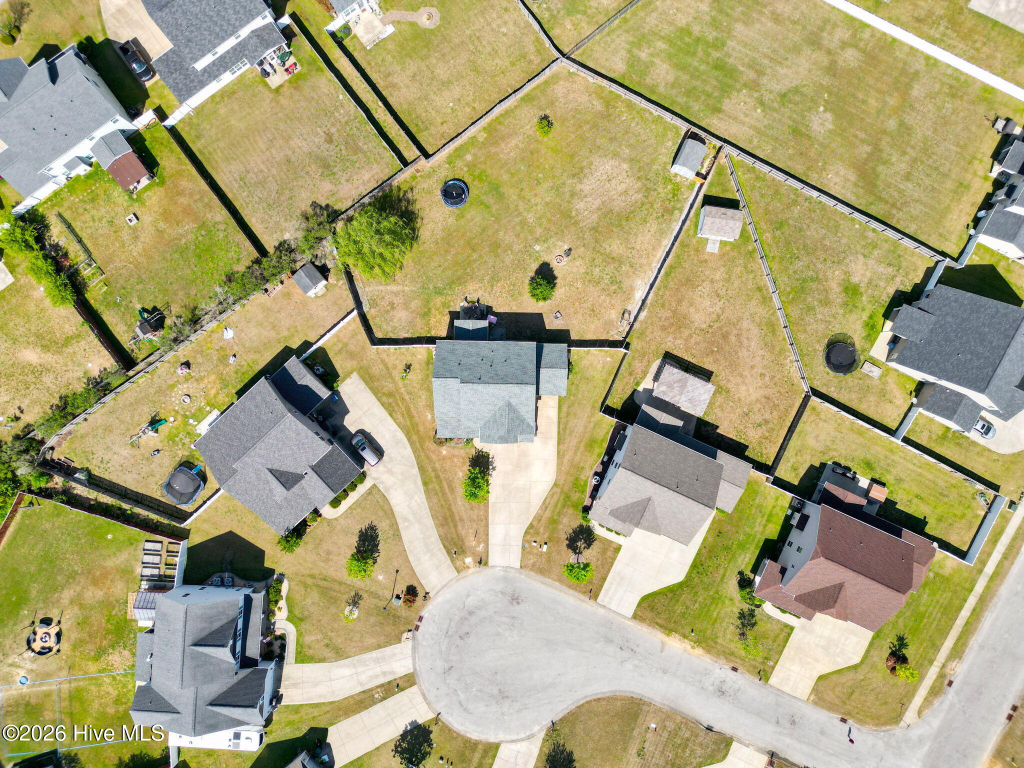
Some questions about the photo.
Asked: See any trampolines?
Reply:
Yes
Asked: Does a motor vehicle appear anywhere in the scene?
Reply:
Yes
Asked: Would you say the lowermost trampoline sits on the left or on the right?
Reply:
left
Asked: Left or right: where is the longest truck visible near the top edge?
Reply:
left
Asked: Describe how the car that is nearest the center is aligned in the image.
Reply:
at an angle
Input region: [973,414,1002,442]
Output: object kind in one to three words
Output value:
car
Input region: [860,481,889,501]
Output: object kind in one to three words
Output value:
gazebo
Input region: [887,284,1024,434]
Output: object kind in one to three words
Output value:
house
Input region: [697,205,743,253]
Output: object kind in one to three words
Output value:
shed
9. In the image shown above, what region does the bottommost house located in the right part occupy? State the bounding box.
[749,477,935,633]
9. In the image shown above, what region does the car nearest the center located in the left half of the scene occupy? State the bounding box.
[352,431,382,468]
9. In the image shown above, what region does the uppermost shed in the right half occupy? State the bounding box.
[673,139,707,178]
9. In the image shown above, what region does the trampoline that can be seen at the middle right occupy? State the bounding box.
[824,337,866,371]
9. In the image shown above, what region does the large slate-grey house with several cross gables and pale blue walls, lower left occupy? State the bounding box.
[128,587,277,740]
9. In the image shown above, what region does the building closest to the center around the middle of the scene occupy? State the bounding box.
[433,315,568,444]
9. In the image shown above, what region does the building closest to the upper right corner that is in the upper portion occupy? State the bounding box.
[964,140,1024,268]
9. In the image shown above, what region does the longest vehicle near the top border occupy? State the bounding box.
[116,37,152,81]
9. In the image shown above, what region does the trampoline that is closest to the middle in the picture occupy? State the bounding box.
[441,175,469,206]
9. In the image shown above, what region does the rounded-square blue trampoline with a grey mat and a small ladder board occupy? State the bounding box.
[159,463,204,503]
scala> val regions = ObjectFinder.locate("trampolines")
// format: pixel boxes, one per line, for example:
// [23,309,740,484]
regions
[441,175,469,206]
[159,463,204,503]
[824,337,866,371]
